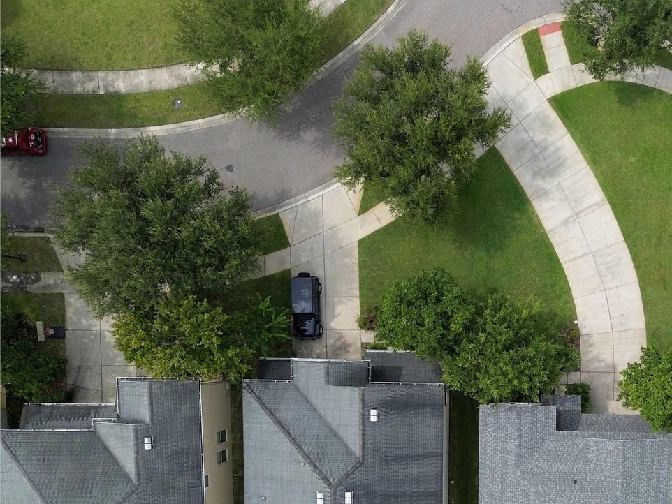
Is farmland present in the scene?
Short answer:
No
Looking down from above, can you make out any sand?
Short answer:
No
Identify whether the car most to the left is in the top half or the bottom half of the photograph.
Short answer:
top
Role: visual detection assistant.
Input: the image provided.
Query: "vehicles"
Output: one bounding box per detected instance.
[0,125,49,161]
[290,271,326,337]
